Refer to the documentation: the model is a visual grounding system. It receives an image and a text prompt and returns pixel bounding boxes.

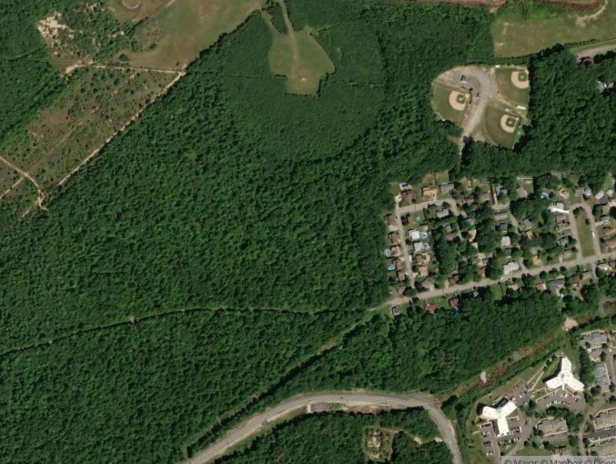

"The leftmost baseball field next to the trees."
[432,85,469,124]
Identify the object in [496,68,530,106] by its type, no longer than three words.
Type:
baseball field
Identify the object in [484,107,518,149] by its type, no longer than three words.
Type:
baseball field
